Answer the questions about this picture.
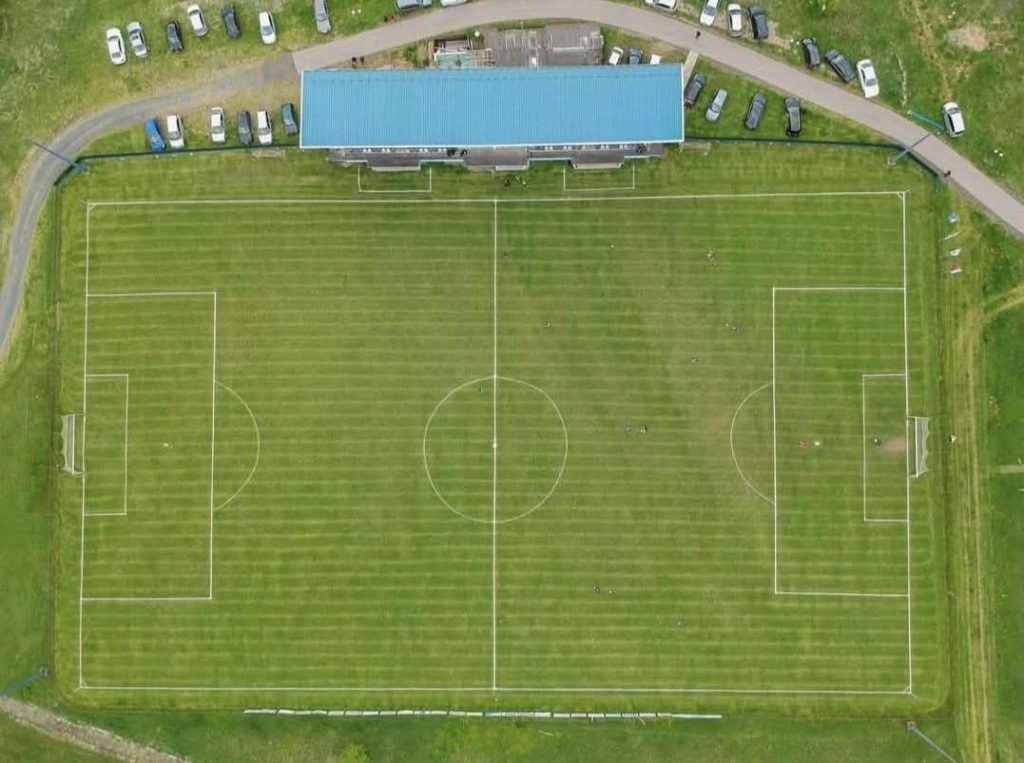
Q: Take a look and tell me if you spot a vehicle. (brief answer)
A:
Yes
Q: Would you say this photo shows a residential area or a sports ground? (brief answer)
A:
sports ground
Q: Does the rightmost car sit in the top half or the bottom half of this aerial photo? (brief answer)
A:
top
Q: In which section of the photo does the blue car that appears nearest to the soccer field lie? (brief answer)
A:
top left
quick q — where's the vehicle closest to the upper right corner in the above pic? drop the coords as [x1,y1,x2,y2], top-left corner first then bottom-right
[941,101,967,139]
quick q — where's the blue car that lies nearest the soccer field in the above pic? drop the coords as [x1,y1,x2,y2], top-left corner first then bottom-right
[143,116,167,154]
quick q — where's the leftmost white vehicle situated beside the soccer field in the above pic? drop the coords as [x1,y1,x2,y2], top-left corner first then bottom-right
[164,113,187,149]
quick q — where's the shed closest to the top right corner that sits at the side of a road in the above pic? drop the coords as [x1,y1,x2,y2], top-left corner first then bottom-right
[545,26,603,67]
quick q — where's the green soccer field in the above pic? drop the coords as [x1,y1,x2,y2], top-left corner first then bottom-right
[58,147,946,714]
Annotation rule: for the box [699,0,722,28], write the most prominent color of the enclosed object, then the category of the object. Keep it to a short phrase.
white car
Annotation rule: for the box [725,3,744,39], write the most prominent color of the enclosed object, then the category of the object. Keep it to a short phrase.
white car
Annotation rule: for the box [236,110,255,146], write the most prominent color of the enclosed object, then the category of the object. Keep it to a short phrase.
gray car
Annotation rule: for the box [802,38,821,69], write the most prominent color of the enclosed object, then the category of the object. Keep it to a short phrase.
gray car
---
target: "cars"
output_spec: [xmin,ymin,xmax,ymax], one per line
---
[856,58,880,100]
[825,48,856,85]
[725,3,744,39]
[647,54,662,65]
[106,28,128,66]
[396,0,434,14]
[699,0,722,28]
[164,113,187,149]
[257,10,278,46]
[641,0,679,15]
[705,87,731,124]
[143,116,167,154]
[209,107,228,144]
[165,20,185,54]
[627,47,644,66]
[256,110,274,145]
[802,38,821,69]
[742,91,767,131]
[941,101,967,139]
[312,0,333,35]
[748,5,769,41]
[685,73,706,110]
[605,45,625,66]
[782,96,804,136]
[127,20,151,60]
[236,110,255,146]
[223,5,242,40]
[281,103,300,136]
[189,4,209,38]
